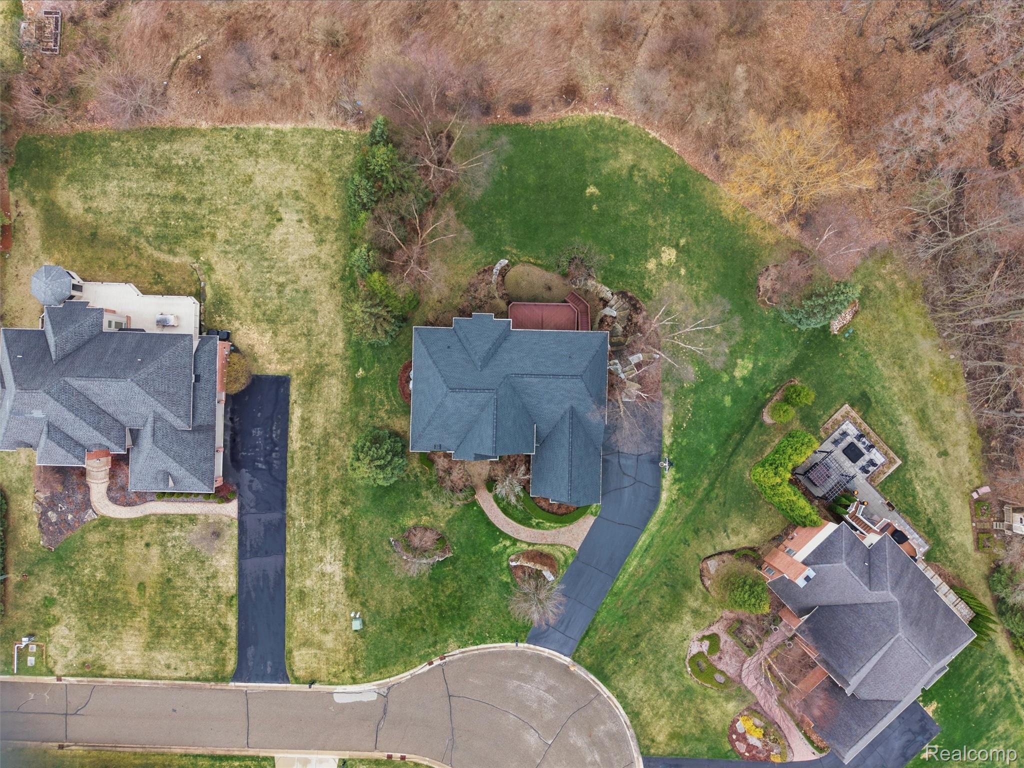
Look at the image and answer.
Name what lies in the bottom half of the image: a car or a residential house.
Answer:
residential house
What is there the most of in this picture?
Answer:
grass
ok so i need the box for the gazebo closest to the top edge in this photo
[32,266,82,305]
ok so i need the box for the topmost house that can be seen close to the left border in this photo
[0,300,236,493]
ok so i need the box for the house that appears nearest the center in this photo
[409,313,610,510]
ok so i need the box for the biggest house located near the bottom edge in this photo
[756,513,978,762]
